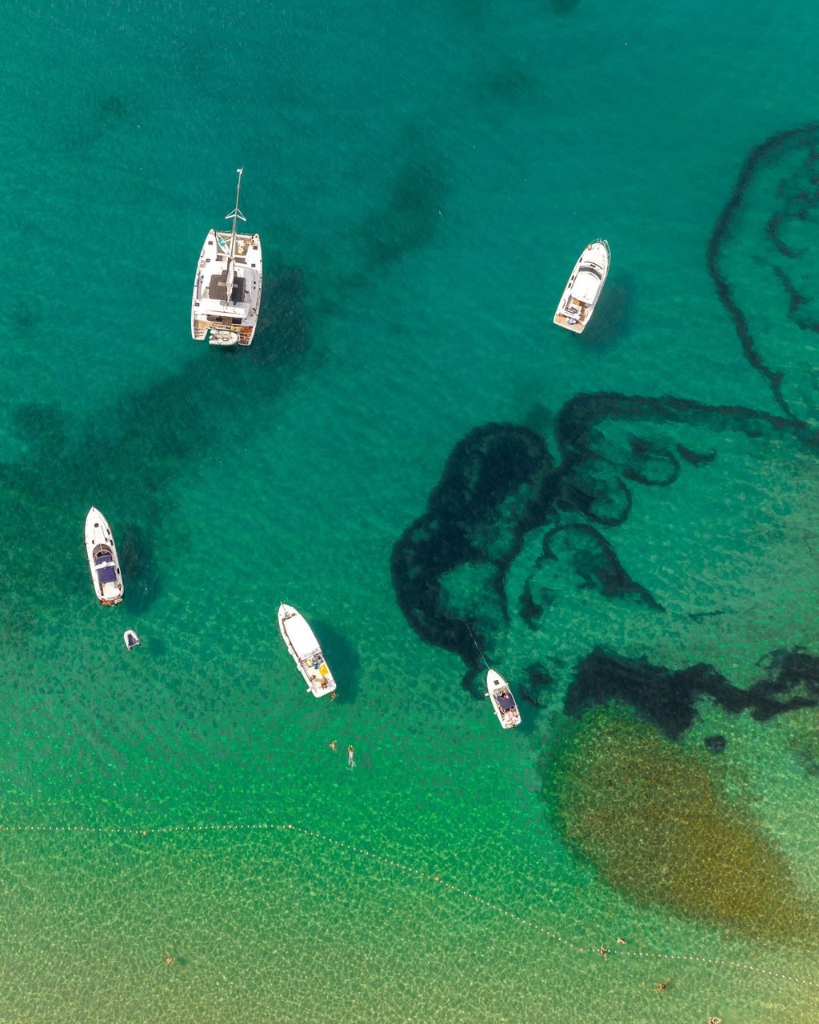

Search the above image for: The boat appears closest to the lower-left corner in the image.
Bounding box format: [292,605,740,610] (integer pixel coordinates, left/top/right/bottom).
[124,629,139,650]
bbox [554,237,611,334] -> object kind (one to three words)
boat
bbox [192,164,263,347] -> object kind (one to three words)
boat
